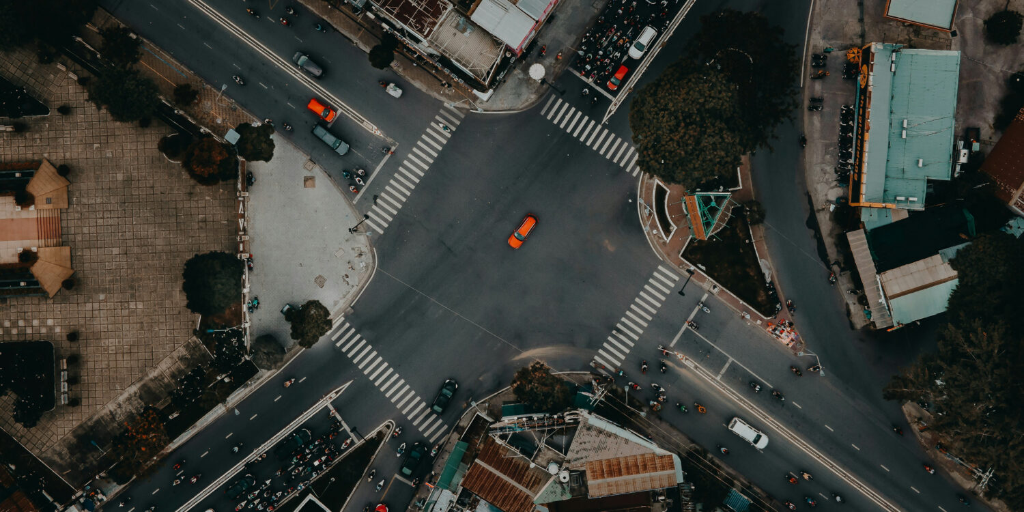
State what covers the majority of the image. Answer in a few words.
paved ground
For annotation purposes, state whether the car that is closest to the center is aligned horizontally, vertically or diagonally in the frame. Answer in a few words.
diagonally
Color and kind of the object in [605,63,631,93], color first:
red car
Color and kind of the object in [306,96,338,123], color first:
red car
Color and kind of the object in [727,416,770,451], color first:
white car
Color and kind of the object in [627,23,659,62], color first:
white car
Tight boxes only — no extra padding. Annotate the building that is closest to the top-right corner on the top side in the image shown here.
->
[881,0,959,34]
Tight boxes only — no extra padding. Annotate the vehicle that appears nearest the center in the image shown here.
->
[507,212,539,250]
